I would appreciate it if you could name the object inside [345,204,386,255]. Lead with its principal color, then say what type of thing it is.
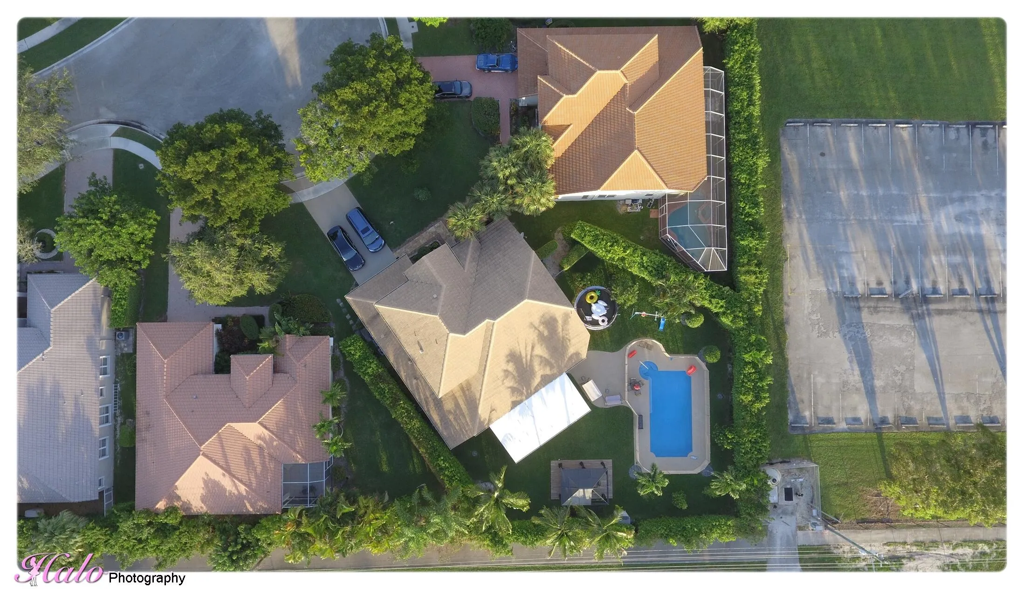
blue car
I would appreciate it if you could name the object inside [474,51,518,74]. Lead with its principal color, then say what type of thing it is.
blue car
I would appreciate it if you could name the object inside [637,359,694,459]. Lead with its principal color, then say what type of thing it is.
blue swimming pool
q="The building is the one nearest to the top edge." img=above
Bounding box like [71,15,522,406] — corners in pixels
[516,26,706,199]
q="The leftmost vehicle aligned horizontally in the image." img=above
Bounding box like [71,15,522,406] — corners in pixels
[426,78,474,101]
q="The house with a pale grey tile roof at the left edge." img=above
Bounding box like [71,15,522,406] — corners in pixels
[0,273,117,504]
